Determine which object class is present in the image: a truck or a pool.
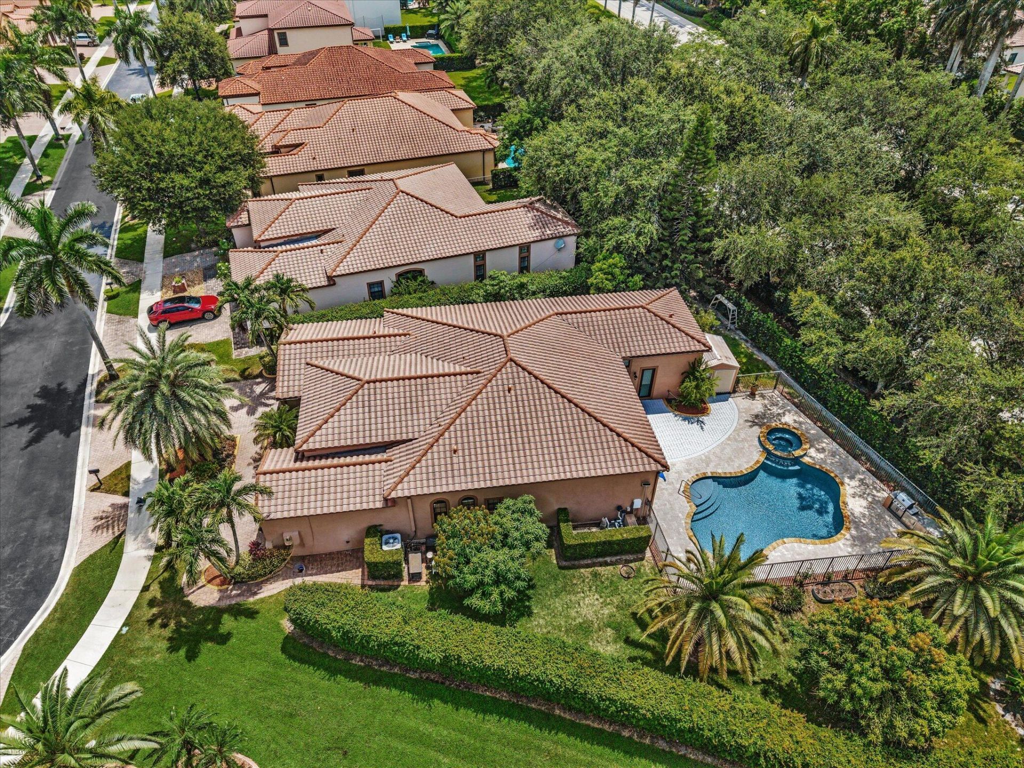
pool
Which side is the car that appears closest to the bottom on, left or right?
left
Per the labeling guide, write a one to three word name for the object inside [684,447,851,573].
swimming pool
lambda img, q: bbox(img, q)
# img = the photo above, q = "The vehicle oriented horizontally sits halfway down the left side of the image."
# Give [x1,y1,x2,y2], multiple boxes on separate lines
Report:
[145,290,223,329]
